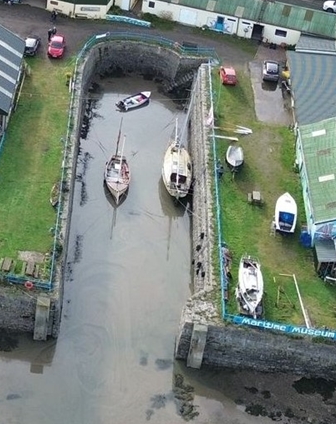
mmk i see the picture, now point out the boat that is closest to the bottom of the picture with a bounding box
[237,256,267,317]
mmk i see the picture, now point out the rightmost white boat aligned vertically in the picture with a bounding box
[272,185,299,241]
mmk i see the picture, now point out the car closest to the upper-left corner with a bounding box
[27,34,42,58]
